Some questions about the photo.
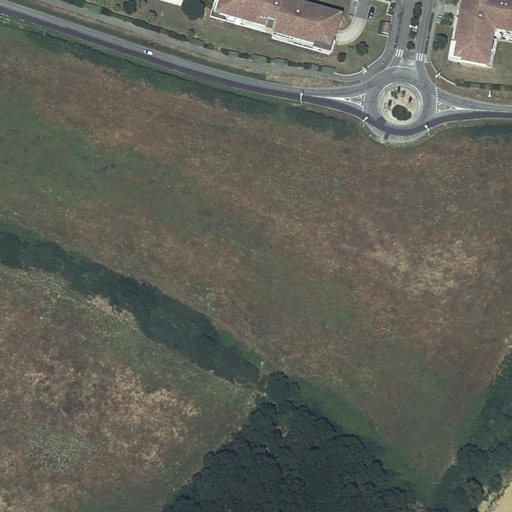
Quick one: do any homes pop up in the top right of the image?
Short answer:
Yes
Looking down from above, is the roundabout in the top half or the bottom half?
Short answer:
top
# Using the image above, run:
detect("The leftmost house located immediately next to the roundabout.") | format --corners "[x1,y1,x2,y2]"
[210,0,342,56]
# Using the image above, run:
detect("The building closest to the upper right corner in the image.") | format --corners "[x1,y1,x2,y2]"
[448,0,512,68]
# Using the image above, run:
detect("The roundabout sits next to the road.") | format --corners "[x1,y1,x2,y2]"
[309,56,512,143]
